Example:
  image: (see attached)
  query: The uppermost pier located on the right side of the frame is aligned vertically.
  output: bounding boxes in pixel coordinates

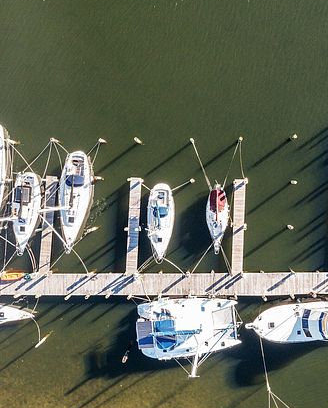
[231,179,249,272]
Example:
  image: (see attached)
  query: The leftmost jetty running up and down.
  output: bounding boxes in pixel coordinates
[38,176,61,272]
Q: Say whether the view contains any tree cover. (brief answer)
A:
No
